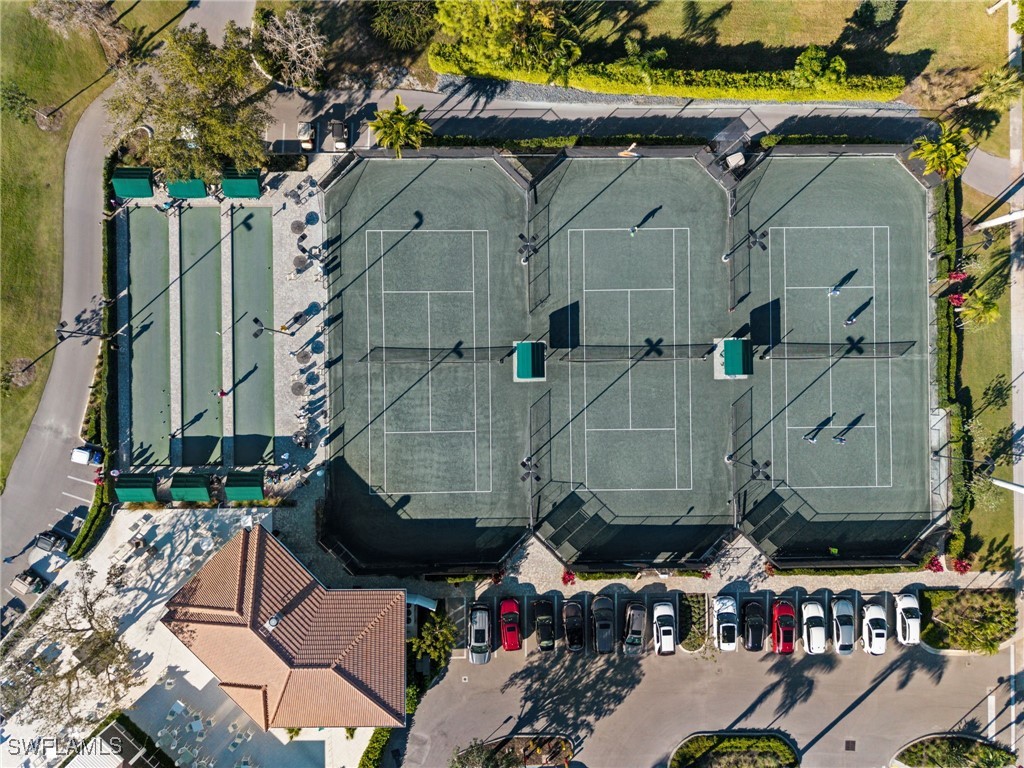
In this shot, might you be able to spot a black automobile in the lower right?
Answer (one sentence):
Yes, a black automobile appears in the lower right.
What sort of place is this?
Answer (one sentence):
The picture captures a sports ground.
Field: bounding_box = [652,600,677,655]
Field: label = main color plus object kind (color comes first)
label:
white car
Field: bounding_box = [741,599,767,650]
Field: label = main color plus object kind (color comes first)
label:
black car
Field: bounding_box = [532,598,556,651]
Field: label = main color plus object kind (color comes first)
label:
black car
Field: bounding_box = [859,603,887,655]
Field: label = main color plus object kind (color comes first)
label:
white car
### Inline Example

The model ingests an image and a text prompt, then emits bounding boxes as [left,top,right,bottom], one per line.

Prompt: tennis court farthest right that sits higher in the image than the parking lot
[730,158,931,558]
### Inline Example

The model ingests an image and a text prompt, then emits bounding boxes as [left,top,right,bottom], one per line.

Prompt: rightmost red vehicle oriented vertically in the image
[770,599,797,654]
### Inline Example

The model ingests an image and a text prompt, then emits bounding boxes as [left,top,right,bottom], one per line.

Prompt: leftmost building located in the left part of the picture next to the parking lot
[158,523,408,733]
